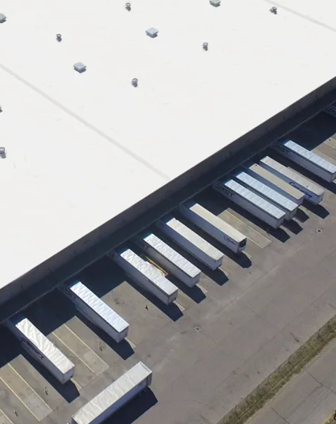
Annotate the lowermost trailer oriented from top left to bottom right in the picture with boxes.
[1,310,74,386]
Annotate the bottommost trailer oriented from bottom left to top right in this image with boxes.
[71,361,152,424]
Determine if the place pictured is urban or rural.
urban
